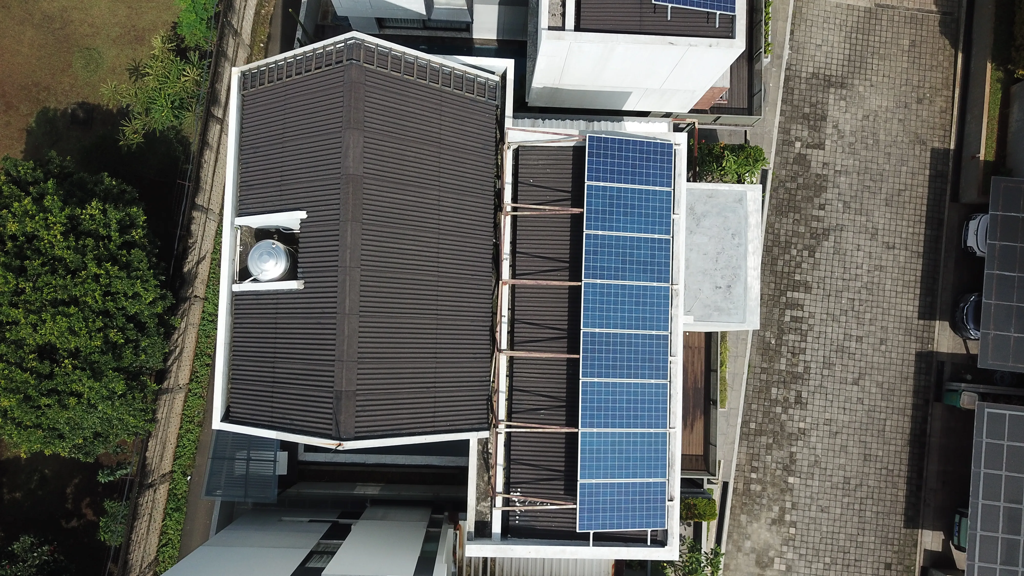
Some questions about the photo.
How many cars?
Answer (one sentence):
The picture shows 3 cars.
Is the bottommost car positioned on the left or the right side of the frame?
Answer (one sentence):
You can find the bottommost car on the right side of the picture.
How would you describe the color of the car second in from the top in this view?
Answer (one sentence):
The color of the car second in from the top is black.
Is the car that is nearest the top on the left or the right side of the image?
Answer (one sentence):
You can find the car that is nearest the top on the right side of the picture.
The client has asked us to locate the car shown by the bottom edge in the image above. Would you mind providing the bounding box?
[946,506,969,554]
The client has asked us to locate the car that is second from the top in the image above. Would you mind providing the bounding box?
[944,293,983,341]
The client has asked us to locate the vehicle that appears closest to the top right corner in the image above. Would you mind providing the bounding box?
[959,214,988,260]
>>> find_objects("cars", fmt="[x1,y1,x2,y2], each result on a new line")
[959,214,988,260]
[944,293,983,341]
[946,506,969,554]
